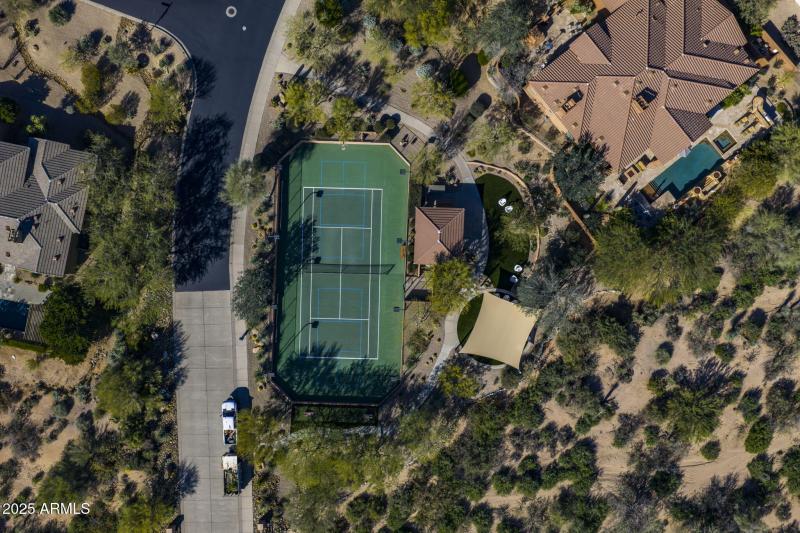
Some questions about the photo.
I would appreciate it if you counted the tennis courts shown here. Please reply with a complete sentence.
Just 1 tennis court appears in this view.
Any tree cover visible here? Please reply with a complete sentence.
Yes, tree cover shows up in the scene.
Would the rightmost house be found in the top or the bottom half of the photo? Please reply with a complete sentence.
Seen from above, the rightmost house lies in the top half of the view.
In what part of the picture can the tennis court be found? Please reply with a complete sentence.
The tennis court is in the center part of the image.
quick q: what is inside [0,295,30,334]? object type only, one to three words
swimming pool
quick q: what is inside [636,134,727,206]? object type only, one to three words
swimming pool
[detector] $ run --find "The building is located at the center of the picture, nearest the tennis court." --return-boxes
[413,207,465,264]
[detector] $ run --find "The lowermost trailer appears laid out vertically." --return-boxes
[217,450,241,501]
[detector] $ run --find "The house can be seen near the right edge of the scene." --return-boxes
[525,0,761,173]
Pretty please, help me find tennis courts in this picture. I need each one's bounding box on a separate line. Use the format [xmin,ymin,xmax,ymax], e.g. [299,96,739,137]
[277,142,409,400]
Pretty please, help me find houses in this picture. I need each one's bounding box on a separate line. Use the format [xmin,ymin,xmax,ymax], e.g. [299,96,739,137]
[525,0,761,173]
[0,140,109,275]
